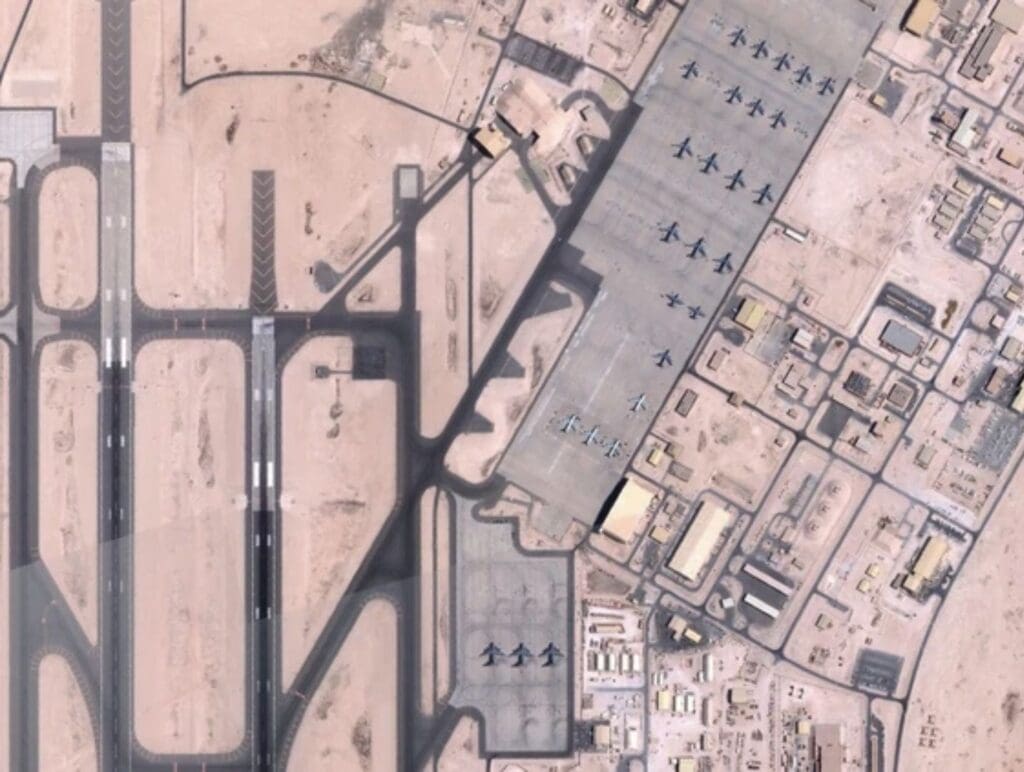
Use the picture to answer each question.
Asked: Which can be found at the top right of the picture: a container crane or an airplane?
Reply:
airplane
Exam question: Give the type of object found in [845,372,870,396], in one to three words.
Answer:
building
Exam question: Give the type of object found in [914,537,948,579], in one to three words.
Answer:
building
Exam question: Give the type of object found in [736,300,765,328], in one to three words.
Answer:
hangar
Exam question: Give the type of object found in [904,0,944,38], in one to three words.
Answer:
hangar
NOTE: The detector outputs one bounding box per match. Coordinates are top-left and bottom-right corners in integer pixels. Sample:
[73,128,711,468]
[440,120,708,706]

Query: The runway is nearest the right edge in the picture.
[235,170,290,772]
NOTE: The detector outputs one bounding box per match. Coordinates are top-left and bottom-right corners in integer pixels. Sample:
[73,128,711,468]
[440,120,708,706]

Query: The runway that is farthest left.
[98,0,135,772]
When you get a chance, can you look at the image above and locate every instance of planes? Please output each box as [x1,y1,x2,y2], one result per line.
[727,171,744,190]
[730,29,746,48]
[481,642,505,668]
[682,62,698,80]
[748,99,765,118]
[701,154,718,173]
[511,642,535,668]
[603,440,620,459]
[662,223,679,242]
[583,428,599,446]
[629,394,645,413]
[690,305,707,320]
[774,53,791,72]
[689,239,706,258]
[540,642,565,668]
[755,185,772,204]
[770,111,787,130]
[716,255,733,273]
[752,41,768,60]
[796,66,813,85]
[818,77,835,96]
[657,351,670,366]
[674,139,691,158]
[560,416,576,434]
[668,293,685,307]
[726,86,743,105]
